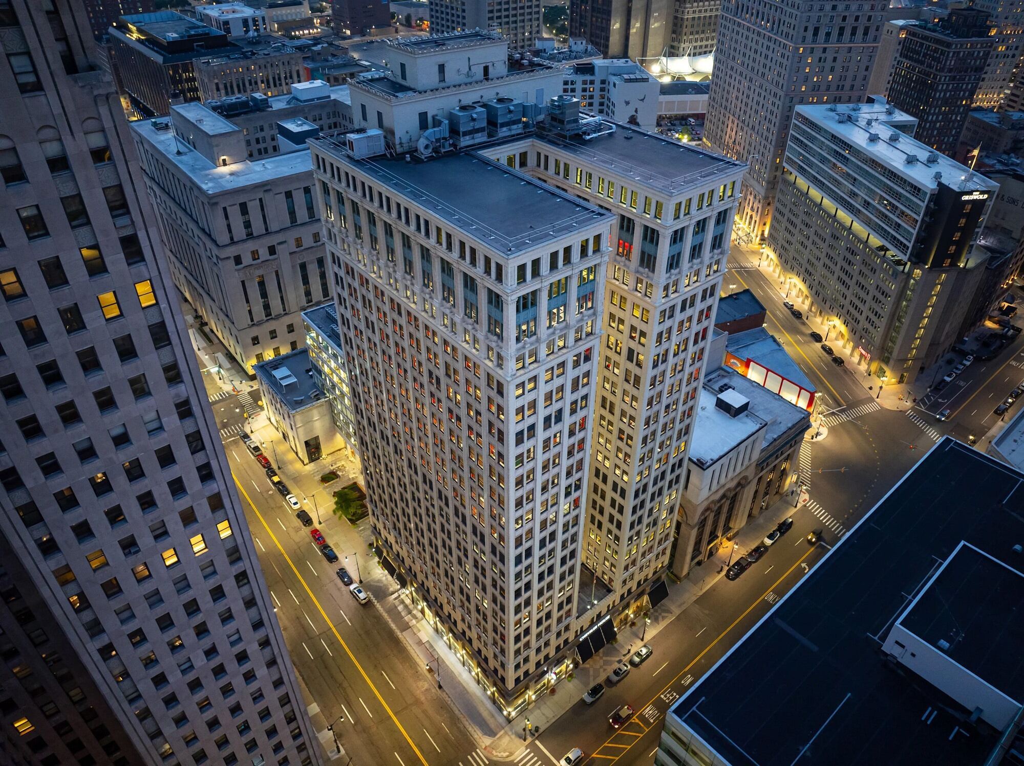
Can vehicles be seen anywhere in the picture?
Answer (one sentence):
Yes, the image includes a vehicle.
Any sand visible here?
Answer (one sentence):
No, sand can't be seen anywhere here.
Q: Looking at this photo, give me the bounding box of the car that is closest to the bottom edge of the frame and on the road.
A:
[557,743,583,766]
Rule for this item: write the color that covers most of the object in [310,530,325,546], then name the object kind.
red car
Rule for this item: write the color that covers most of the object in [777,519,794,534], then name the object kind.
black car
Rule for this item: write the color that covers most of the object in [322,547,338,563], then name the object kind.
black car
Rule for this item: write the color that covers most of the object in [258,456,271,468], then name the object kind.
red vehicle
